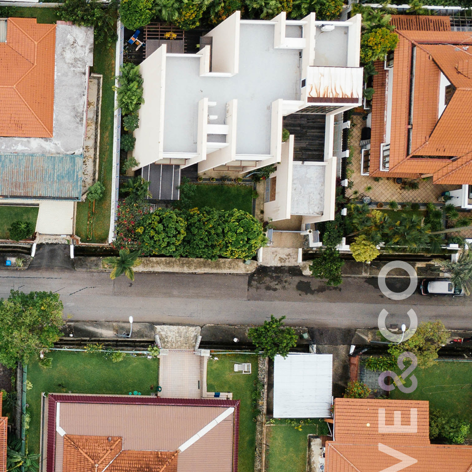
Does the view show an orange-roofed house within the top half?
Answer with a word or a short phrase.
Yes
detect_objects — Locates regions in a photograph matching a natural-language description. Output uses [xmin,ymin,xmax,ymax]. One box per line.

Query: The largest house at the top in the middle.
[130,11,363,225]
